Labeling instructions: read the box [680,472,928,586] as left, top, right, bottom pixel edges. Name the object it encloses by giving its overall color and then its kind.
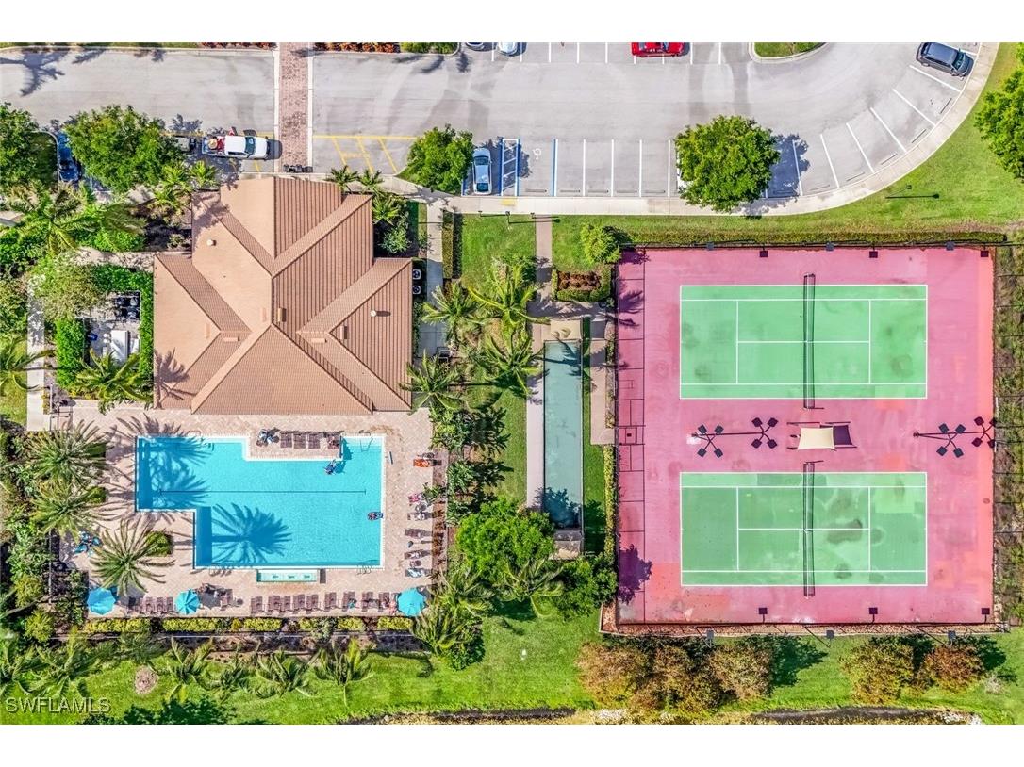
green tennis court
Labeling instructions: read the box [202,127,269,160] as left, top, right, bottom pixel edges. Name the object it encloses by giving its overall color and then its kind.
white truck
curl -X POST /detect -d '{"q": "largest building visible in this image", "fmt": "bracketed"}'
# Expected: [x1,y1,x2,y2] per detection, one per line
[153,177,413,415]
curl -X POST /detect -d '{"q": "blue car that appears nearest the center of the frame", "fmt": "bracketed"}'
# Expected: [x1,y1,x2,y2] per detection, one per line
[472,145,494,195]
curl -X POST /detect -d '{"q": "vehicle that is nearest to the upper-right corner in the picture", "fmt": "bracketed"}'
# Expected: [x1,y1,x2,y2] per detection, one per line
[915,41,972,78]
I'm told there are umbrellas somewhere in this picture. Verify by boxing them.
[90,586,117,614]
[175,587,201,613]
[399,588,425,614]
